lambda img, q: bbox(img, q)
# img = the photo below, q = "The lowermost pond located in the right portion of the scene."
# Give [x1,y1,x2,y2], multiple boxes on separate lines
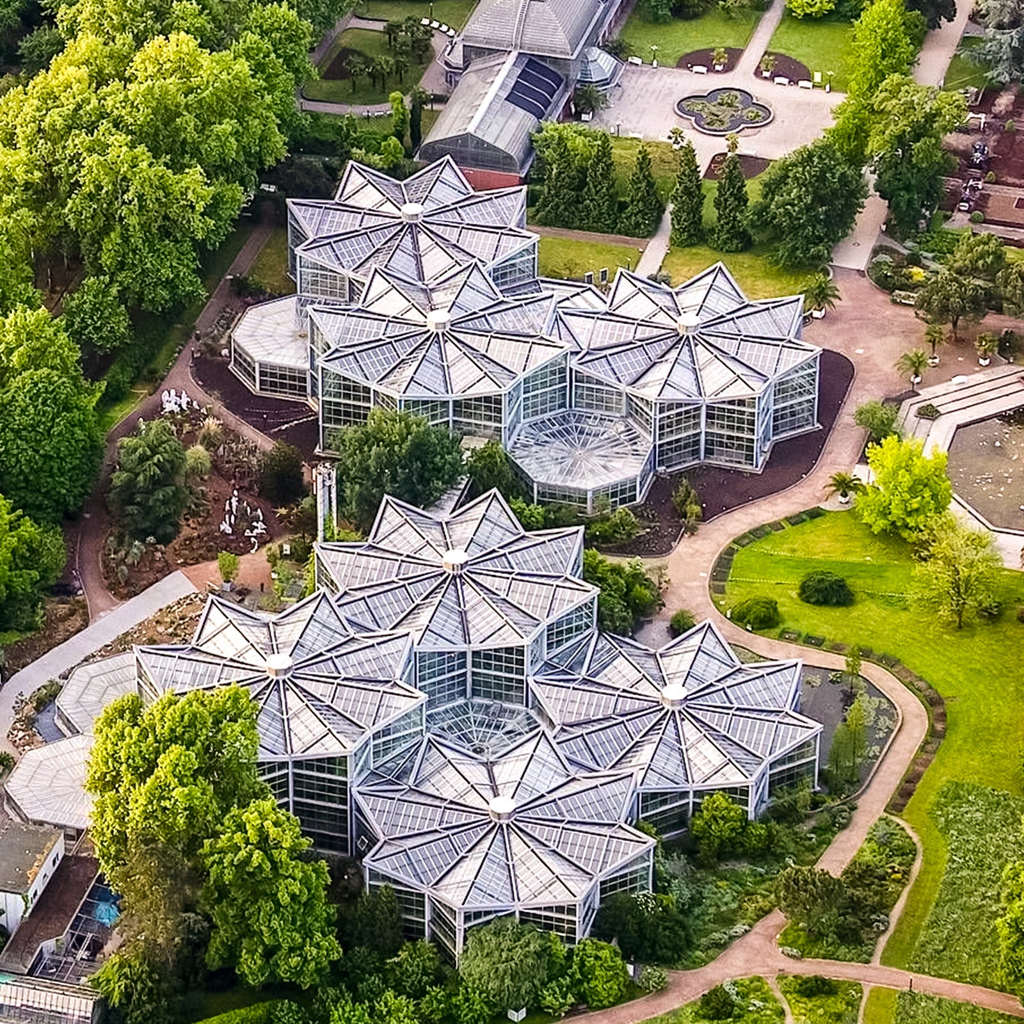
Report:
[780,662,896,815]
